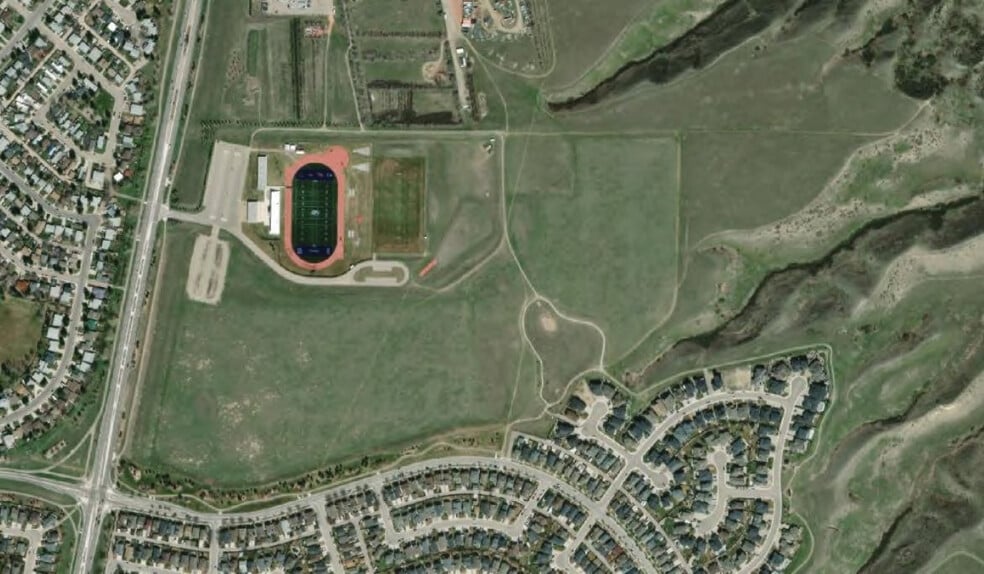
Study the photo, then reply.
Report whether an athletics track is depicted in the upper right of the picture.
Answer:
No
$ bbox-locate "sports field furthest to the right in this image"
[374,157,427,255]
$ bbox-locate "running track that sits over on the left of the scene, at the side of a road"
[285,145,349,271]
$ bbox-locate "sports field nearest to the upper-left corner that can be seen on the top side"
[293,162,337,262]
